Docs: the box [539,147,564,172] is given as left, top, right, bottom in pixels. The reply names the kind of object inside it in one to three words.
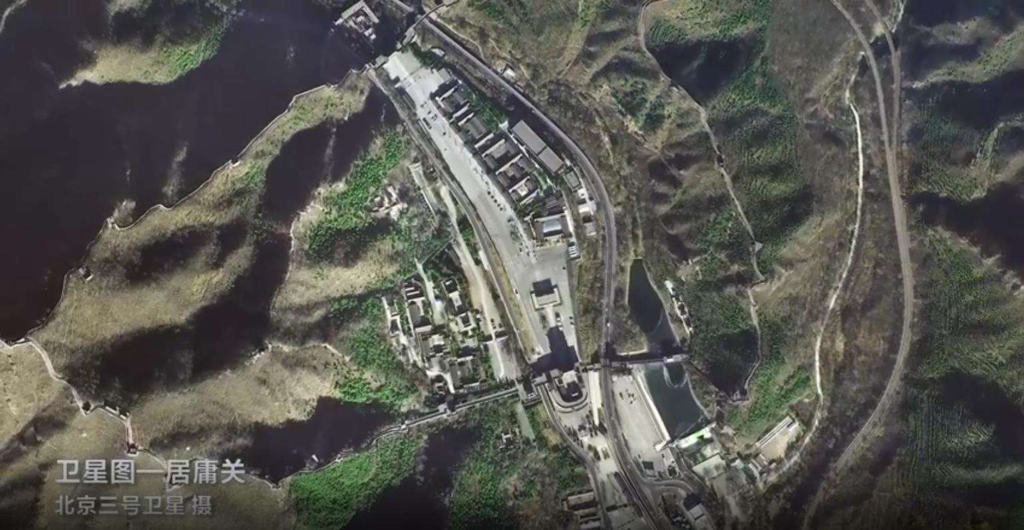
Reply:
building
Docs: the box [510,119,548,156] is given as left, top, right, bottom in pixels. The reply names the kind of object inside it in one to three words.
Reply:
building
